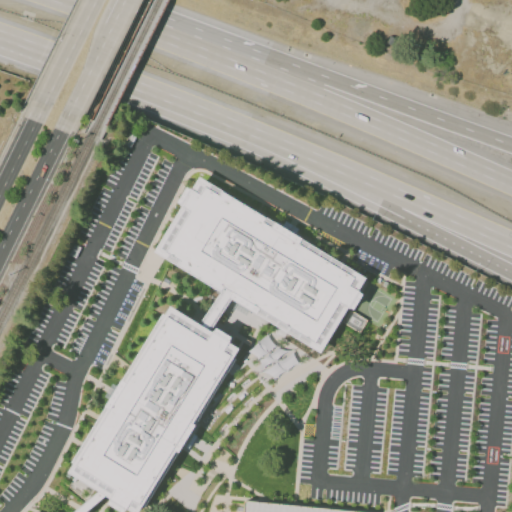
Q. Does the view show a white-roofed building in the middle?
Yes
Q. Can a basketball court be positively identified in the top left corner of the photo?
No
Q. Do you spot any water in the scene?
No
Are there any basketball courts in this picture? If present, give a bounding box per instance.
[362,286,396,323]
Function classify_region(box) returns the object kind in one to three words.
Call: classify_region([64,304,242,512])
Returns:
building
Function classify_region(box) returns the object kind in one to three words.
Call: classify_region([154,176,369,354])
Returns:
building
